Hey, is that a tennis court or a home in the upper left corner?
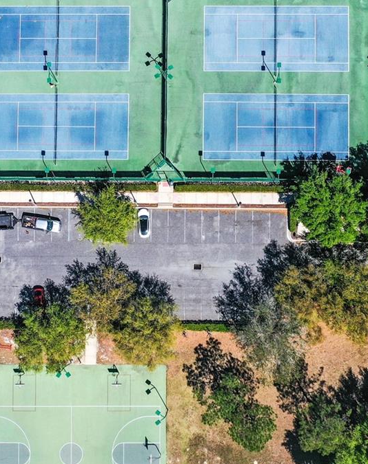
tennis court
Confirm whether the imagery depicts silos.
No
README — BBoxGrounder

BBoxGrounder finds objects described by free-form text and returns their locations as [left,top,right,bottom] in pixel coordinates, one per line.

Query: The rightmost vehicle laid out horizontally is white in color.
[23,214,59,231]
